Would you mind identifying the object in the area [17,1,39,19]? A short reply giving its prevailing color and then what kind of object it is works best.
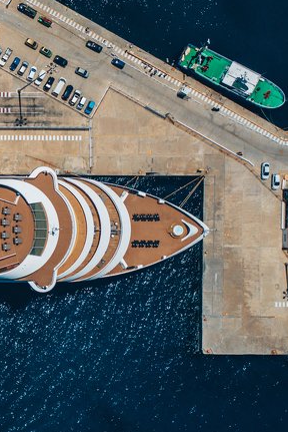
black vehicle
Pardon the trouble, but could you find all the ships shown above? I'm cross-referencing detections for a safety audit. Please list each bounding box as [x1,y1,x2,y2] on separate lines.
[176,40,285,108]
[0,166,209,292]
